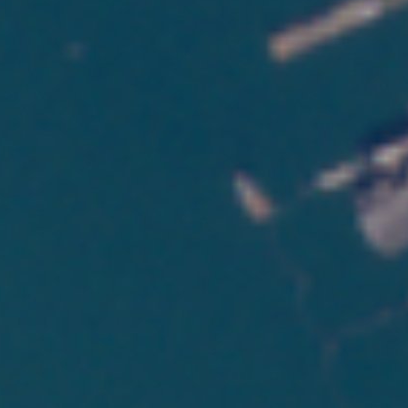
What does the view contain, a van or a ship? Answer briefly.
ship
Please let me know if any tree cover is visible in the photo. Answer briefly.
No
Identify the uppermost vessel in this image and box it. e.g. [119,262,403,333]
[313,167,349,191]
